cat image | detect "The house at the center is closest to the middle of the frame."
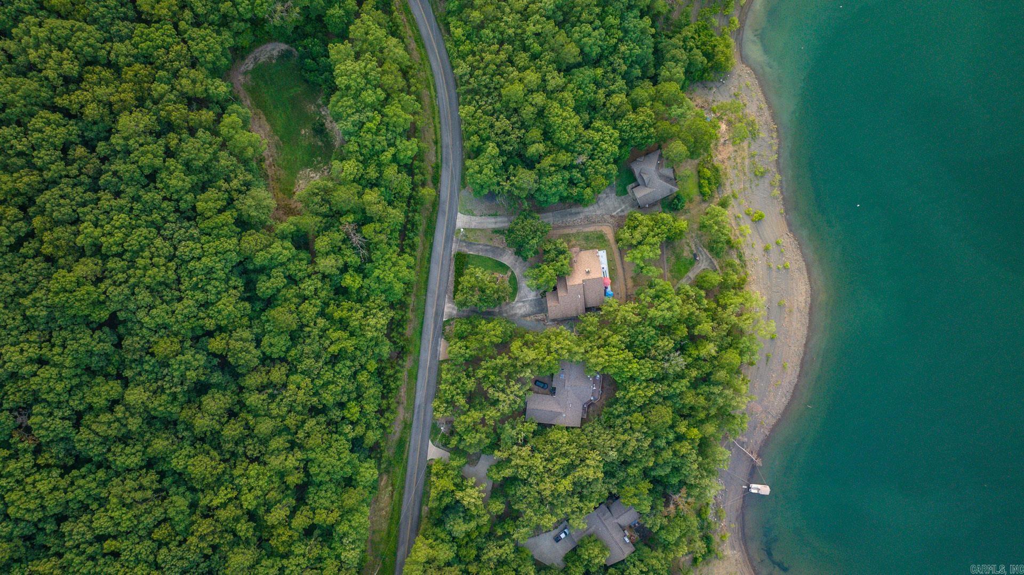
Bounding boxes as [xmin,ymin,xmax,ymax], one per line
[546,249,605,319]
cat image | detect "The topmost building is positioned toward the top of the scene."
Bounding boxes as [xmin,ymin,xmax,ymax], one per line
[631,149,679,208]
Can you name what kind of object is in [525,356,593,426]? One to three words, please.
house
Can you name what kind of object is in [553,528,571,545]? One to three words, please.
vehicle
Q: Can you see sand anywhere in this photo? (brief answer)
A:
Yes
